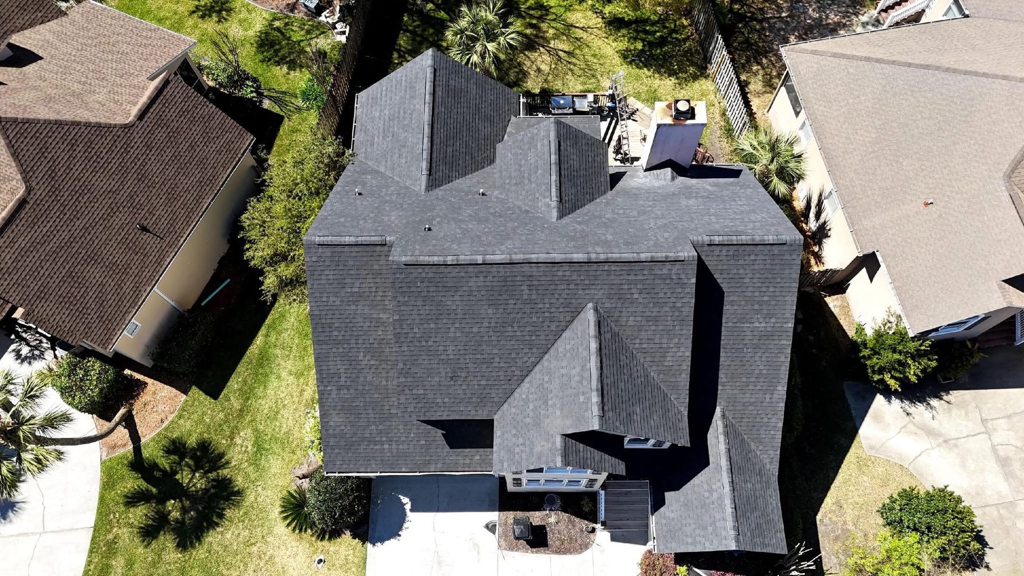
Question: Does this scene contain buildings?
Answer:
Yes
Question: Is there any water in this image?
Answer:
No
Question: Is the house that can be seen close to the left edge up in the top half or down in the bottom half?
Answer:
top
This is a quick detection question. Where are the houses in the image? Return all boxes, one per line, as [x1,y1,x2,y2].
[304,48,803,554]
[766,0,1024,357]
[0,0,264,367]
